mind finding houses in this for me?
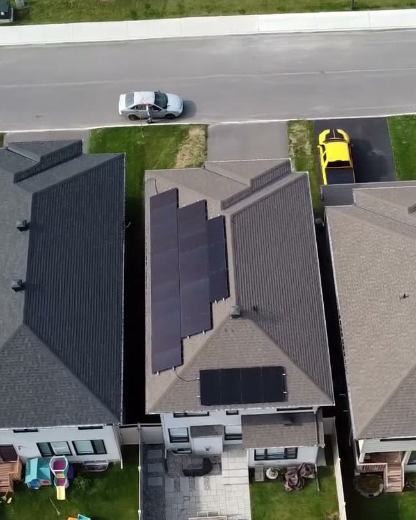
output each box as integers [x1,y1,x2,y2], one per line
[321,182,416,473]
[0,140,127,471]
[144,158,334,470]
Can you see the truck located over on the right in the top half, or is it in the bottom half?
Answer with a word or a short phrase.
top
